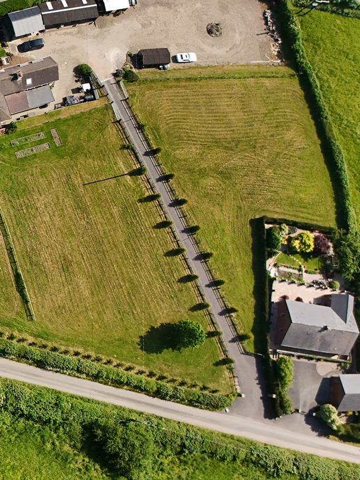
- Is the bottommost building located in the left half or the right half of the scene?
right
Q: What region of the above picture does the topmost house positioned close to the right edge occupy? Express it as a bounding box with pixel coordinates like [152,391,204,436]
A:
[278,294,360,356]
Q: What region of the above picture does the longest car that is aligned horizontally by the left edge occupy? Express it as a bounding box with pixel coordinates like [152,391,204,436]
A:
[18,38,45,54]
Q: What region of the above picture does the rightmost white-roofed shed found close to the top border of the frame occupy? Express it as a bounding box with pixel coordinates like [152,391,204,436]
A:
[101,0,130,16]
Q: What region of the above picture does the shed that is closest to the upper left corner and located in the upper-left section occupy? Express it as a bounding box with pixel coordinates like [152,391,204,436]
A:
[7,6,45,40]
